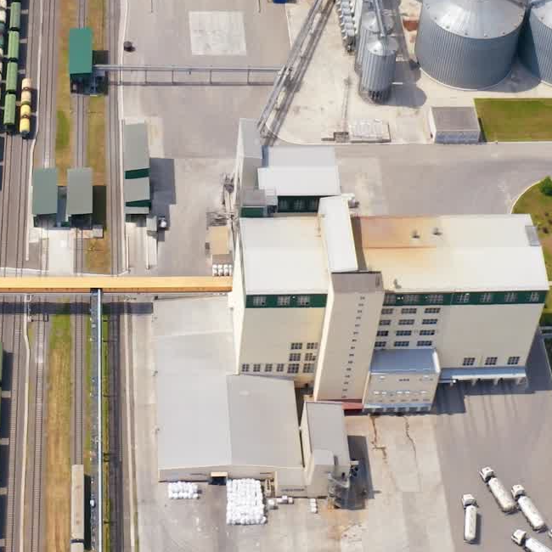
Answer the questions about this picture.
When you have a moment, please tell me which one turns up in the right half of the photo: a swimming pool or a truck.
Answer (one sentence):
The feature located in the right half of the photo is a truck.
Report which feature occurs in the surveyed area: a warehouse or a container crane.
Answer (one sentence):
Visible in the photo is a warehouse.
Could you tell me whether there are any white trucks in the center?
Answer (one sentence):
No, no white truck can be made out in the center.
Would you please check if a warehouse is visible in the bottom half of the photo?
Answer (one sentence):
Yes, you'll find a warehouse in the bottom half of the photo.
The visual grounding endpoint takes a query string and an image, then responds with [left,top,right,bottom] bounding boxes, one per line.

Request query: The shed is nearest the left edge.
[33,169,58,229]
